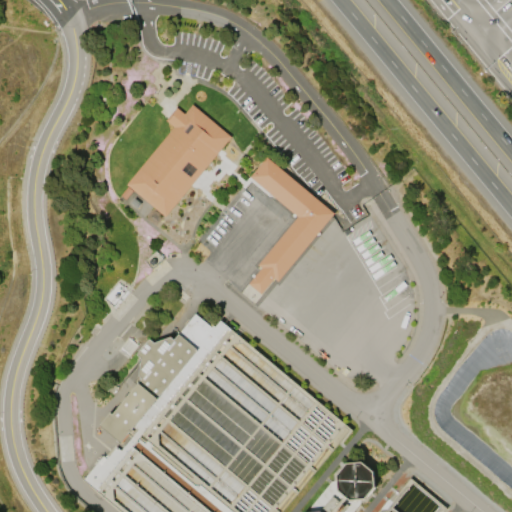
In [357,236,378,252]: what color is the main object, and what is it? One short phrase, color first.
white vehicle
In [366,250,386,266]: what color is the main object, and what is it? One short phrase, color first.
white vehicle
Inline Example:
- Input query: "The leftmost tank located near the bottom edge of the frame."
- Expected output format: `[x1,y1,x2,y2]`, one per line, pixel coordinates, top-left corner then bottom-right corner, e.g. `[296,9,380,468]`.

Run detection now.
[338,462,374,500]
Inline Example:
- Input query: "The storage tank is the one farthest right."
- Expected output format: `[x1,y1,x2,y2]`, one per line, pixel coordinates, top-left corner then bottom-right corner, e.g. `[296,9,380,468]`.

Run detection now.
[382,476,442,512]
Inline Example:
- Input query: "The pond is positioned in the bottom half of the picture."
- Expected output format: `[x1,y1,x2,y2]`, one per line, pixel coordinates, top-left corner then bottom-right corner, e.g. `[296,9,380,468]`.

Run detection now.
[434,326,512,489]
